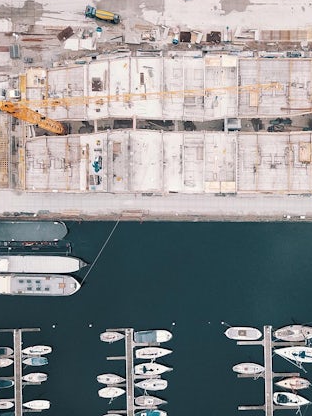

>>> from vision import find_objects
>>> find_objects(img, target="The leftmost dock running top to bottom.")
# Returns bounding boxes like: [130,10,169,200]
[0,326,42,416]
